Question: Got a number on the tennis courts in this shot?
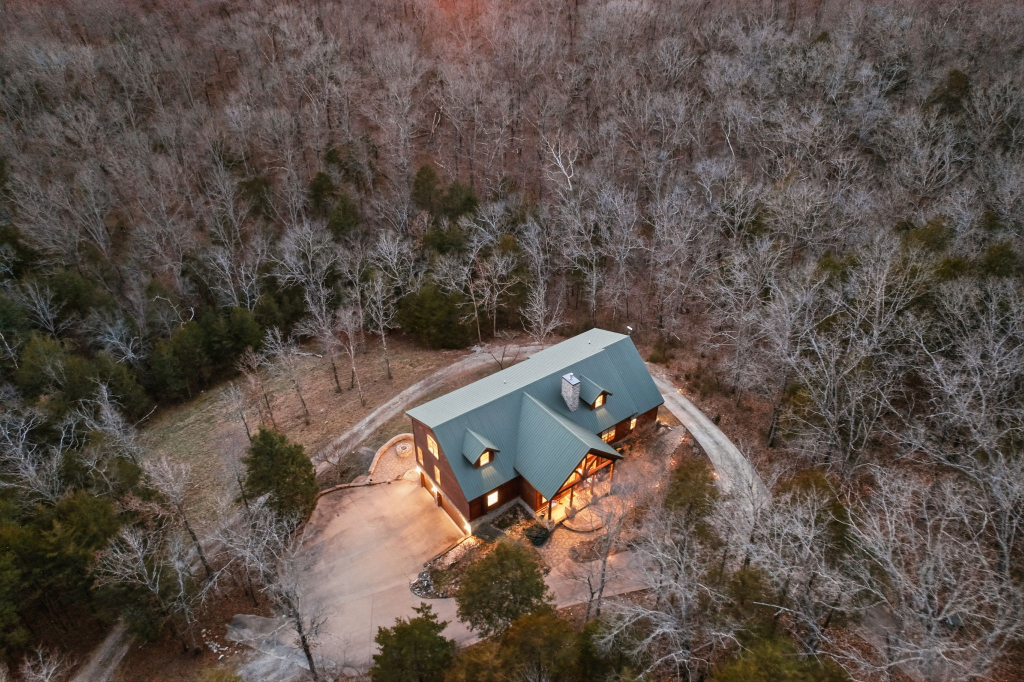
zero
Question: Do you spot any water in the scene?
No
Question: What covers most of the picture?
trees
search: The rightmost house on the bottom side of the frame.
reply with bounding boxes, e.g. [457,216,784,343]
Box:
[405,328,665,538]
